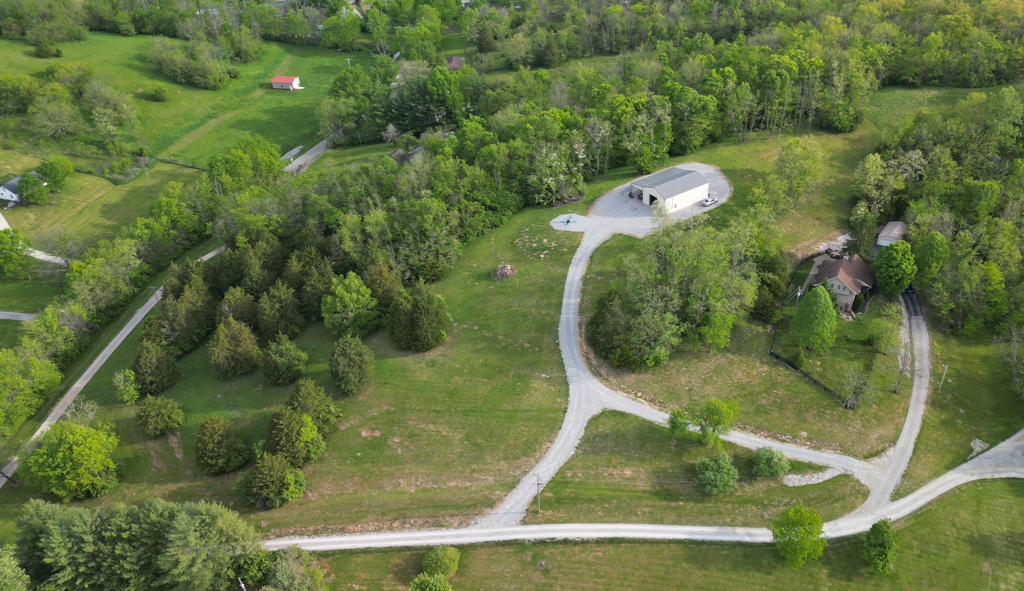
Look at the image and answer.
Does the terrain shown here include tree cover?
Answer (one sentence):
Yes, tree cover can be seen from above here.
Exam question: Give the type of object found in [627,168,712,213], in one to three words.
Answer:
barn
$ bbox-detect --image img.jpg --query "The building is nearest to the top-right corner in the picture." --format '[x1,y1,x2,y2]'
[877,217,917,245]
